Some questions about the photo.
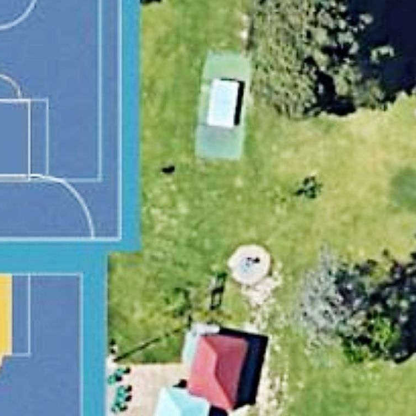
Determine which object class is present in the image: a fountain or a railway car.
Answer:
fountain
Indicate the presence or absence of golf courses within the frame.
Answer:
No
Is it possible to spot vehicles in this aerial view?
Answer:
No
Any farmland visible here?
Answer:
No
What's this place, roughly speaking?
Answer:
sports ground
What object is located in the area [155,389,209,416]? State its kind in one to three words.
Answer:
gazebo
